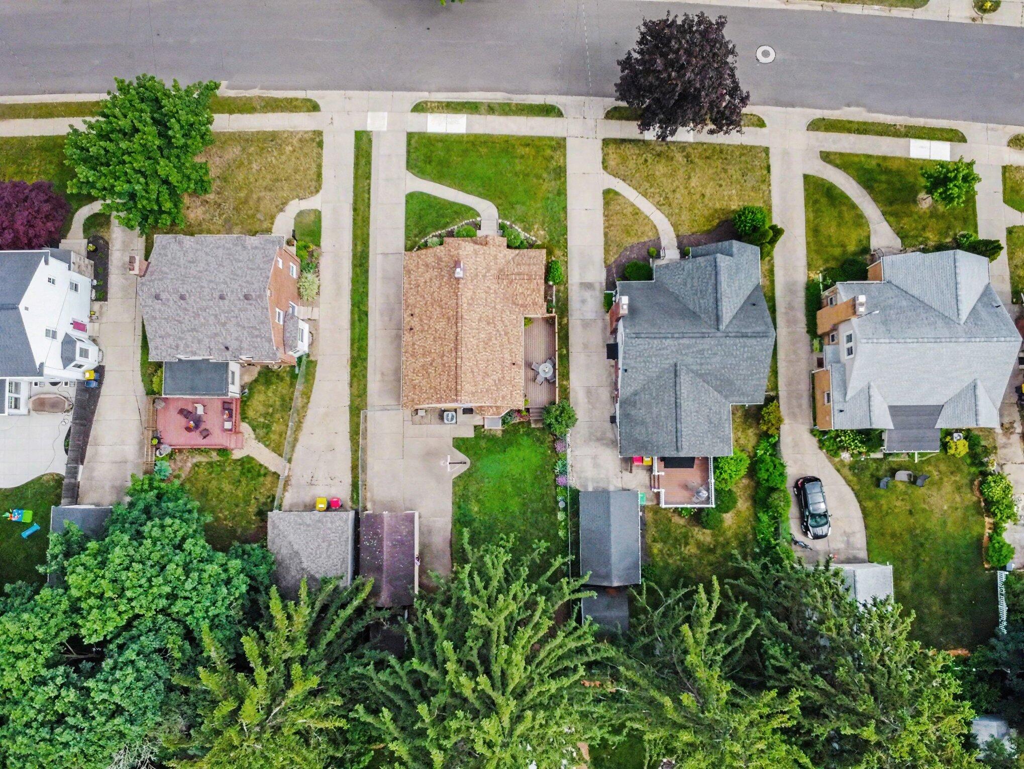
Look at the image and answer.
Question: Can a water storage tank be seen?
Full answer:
No, no water storage tank is visible in the scene.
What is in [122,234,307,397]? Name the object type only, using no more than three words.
house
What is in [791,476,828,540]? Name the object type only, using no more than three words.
car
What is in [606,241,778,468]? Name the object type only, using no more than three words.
house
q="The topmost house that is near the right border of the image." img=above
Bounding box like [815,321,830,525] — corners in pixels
[815,249,1024,462]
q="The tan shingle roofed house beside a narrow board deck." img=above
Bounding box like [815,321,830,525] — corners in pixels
[399,235,547,418]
